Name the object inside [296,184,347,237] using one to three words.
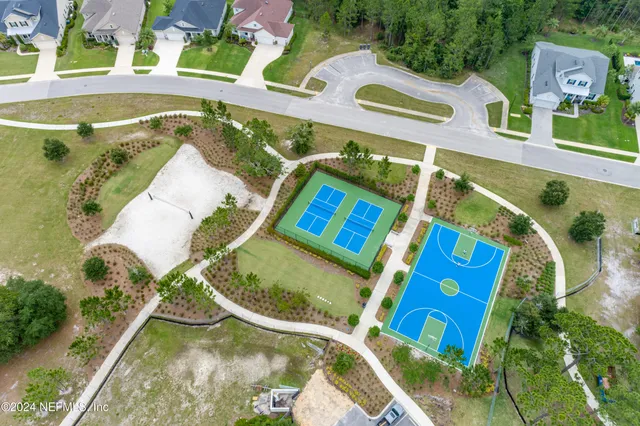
sports court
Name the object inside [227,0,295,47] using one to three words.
house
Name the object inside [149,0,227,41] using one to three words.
house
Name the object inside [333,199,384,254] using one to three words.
sports court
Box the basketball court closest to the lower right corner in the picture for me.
[381,222,511,373]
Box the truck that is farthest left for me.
[375,402,406,426]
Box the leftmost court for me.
[79,143,265,282]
